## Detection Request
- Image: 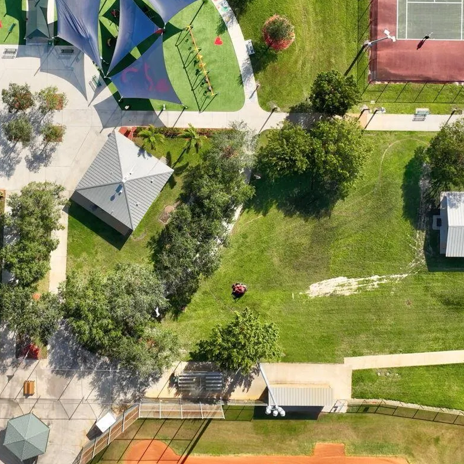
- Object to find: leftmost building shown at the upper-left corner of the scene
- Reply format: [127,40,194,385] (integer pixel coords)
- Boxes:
[25,0,51,41]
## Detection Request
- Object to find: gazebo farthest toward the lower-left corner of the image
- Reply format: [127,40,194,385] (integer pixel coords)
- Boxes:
[4,409,49,460]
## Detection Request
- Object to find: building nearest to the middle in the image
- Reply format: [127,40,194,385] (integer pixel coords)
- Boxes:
[74,129,174,234]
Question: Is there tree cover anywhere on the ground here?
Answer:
Yes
